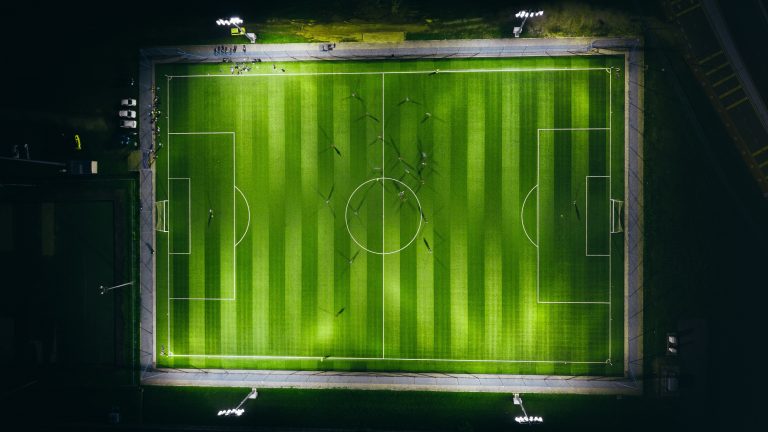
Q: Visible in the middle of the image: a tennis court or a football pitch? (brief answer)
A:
football pitch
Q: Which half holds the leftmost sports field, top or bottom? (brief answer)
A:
bottom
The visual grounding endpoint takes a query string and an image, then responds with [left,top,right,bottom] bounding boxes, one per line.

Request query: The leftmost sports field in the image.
[0,185,124,381]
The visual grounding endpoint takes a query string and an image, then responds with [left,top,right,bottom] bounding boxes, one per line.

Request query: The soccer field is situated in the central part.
[156,54,624,377]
